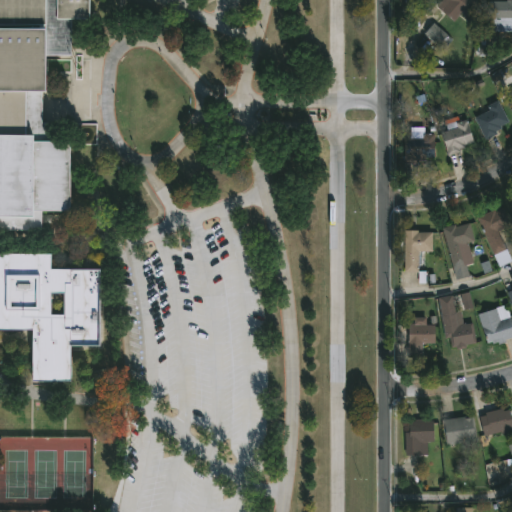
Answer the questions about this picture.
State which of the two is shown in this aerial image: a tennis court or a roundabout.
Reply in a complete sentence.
There is a tennis court in the scene.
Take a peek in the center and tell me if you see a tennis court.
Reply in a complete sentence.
No, no tennis court can be made out in the center.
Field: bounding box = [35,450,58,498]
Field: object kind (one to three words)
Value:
tennis court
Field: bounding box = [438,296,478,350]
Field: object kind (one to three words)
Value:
house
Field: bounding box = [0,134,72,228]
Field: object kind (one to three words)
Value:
building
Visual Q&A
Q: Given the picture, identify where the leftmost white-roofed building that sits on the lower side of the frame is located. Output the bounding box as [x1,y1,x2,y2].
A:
[0,253,100,380]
